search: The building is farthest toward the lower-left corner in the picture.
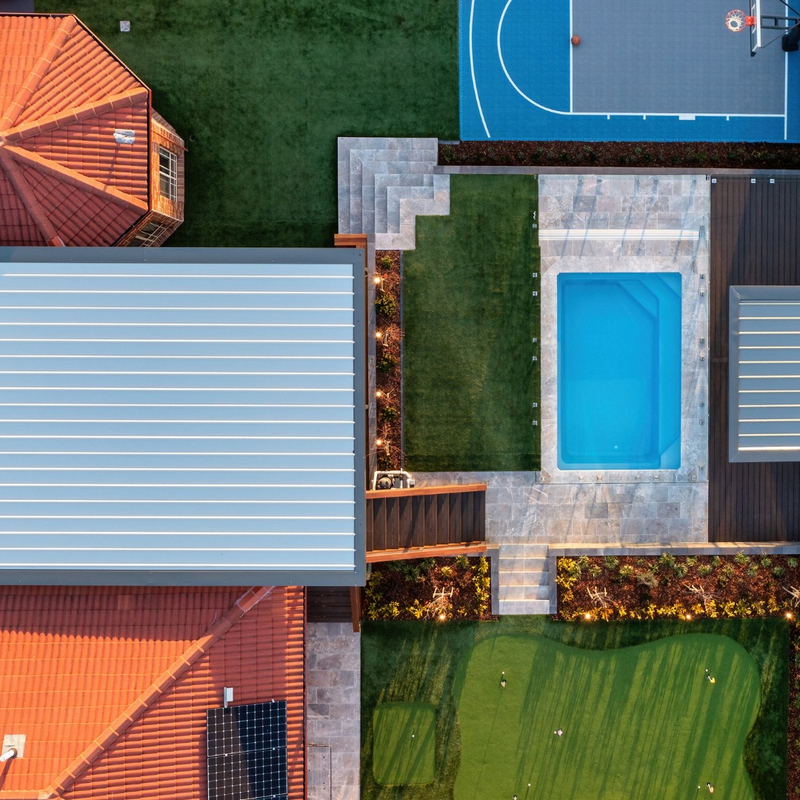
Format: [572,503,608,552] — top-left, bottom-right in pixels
[0,585,309,800]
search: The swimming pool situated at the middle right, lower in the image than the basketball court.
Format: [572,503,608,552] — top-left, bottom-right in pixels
[540,256,698,486]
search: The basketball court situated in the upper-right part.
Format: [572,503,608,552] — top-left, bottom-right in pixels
[459,0,800,141]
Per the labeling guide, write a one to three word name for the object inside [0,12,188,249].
house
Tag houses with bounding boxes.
[0,585,309,800]
[0,12,188,249]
